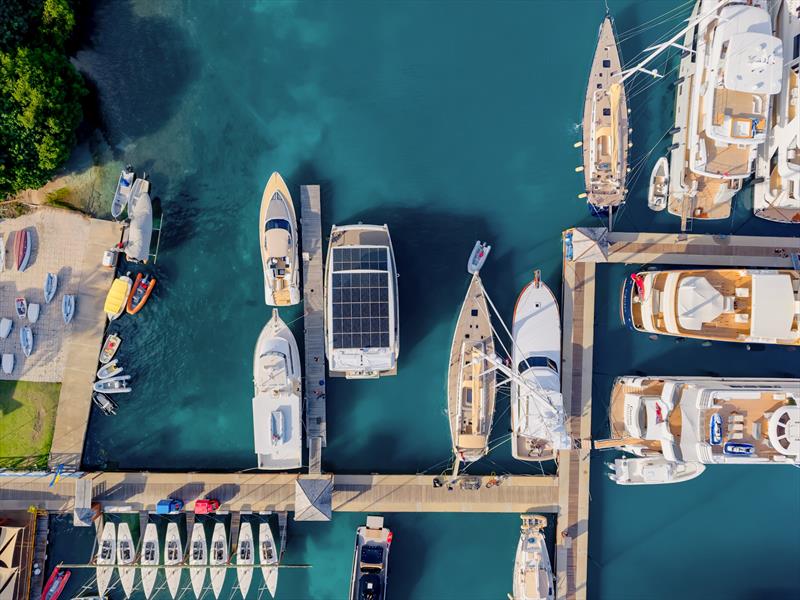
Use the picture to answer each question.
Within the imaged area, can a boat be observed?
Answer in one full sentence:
Yes, the frame does contain a boat.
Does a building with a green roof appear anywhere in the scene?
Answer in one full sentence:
No, no building with a green roof is visible in the scene.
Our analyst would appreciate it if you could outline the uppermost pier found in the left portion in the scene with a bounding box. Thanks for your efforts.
[302,185,327,446]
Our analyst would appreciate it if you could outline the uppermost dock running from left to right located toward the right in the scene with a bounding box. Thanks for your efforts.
[562,232,800,269]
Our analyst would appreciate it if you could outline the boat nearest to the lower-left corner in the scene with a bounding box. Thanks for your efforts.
[46,566,70,600]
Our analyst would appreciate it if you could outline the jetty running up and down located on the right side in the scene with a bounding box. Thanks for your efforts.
[555,263,595,600]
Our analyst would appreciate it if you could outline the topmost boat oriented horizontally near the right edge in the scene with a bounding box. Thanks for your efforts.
[593,266,800,352]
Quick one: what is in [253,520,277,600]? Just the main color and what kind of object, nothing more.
white boat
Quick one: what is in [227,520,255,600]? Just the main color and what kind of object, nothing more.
white boat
